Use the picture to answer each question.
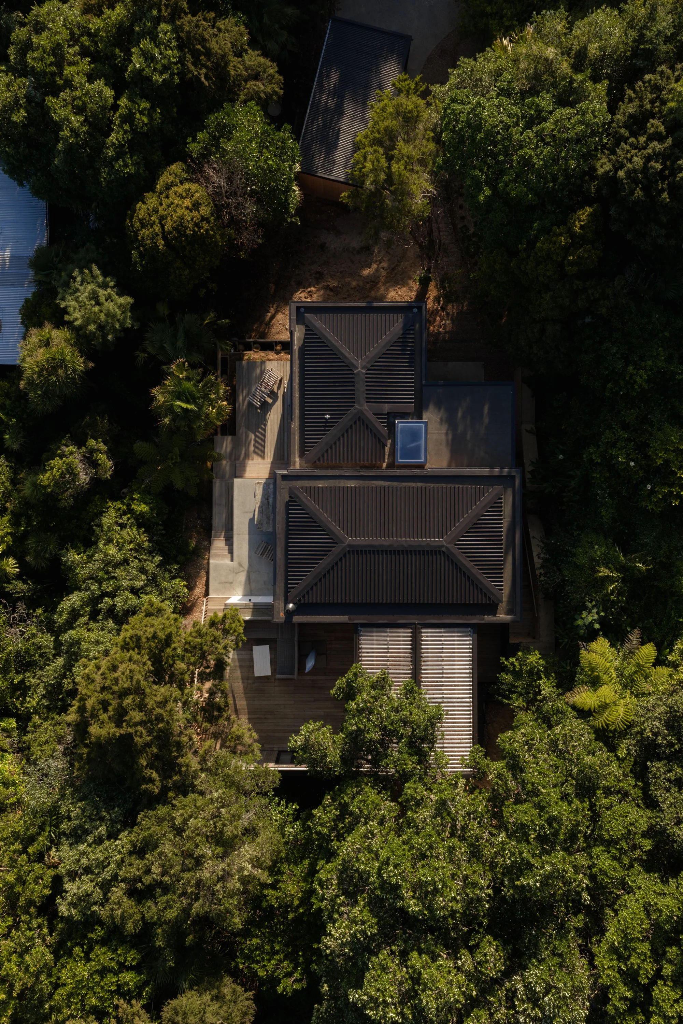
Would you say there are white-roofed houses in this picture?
No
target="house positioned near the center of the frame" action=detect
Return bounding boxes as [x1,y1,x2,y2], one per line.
[273,301,523,623]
